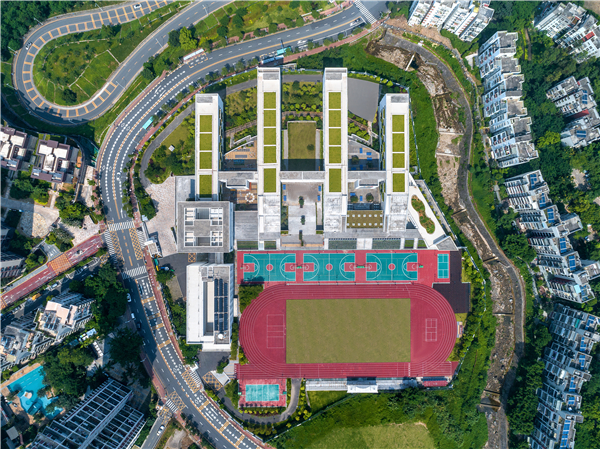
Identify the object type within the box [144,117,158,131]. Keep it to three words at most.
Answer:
vehicle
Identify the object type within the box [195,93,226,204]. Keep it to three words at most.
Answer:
building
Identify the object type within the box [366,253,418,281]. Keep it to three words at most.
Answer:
basketball court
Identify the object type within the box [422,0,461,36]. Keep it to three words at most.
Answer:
building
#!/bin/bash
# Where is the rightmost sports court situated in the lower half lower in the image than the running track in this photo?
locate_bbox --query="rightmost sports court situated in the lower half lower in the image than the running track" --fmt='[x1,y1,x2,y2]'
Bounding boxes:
[237,378,287,407]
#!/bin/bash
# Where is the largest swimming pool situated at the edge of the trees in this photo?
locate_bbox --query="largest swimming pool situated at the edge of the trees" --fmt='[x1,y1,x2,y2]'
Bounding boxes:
[9,366,62,417]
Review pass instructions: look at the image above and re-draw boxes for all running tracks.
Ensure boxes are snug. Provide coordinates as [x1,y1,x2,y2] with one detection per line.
[237,284,459,378]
